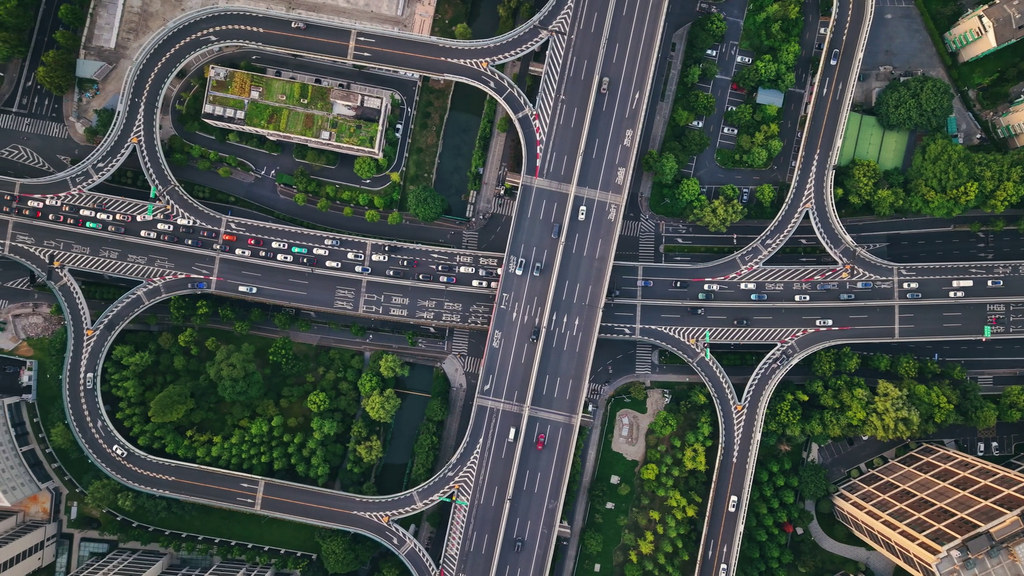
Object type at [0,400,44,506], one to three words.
building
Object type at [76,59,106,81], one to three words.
shed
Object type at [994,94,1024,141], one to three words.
building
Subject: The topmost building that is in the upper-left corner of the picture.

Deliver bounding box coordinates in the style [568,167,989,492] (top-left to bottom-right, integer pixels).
[92,0,131,51]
